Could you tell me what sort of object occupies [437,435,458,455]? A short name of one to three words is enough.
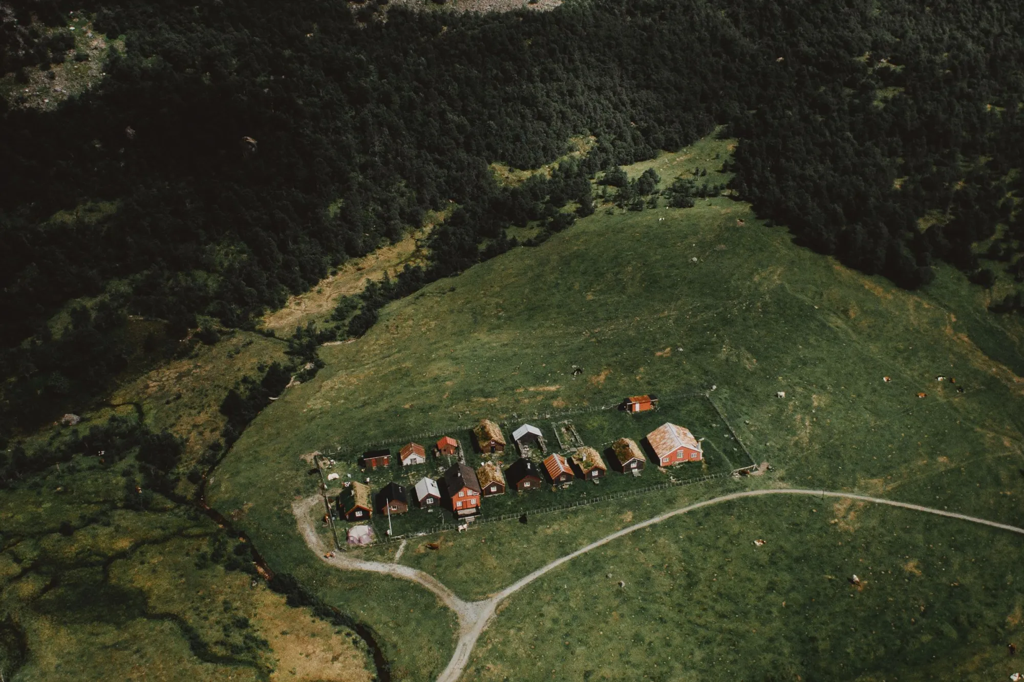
shed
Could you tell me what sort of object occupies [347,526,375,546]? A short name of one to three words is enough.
tent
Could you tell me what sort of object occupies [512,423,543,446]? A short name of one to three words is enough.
barn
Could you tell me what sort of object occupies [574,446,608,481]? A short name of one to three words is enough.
house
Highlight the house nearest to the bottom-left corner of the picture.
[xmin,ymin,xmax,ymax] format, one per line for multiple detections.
[339,480,373,521]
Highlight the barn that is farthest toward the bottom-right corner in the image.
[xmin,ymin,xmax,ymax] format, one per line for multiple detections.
[647,422,707,467]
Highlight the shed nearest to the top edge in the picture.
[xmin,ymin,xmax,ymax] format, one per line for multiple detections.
[623,394,659,413]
